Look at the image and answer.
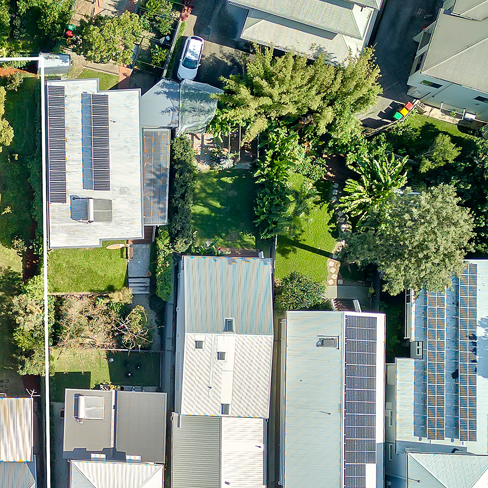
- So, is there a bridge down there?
No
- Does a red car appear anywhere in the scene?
No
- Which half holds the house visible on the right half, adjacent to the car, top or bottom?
top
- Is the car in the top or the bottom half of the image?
top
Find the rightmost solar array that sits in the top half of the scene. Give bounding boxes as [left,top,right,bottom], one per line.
[90,94,110,191]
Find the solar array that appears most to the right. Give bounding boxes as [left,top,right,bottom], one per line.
[453,264,478,442]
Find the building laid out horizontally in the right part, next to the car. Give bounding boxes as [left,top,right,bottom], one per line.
[216,0,383,69]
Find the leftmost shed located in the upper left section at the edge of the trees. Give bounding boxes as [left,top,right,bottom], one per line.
[38,55,71,75]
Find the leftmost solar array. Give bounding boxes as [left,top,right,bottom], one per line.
[47,85,66,203]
